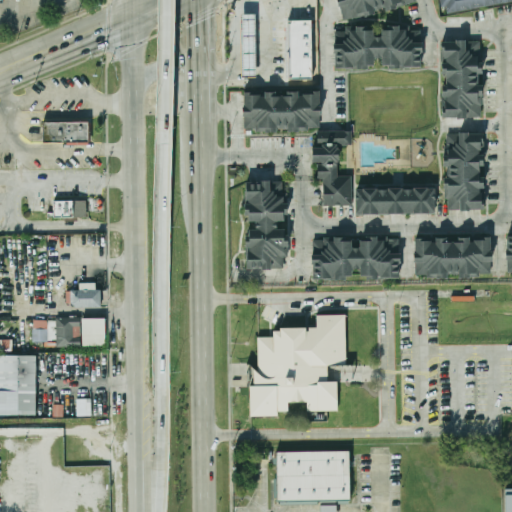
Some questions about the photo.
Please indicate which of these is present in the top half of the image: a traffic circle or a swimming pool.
swimming pool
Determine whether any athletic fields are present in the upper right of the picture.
Yes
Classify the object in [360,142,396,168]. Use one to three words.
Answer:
swimming pool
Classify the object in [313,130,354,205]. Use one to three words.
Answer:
building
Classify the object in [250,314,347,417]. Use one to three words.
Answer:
building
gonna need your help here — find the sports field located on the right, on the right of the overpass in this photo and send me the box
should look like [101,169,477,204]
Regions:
[350,72,438,134]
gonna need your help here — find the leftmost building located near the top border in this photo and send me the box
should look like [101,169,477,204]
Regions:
[242,14,256,78]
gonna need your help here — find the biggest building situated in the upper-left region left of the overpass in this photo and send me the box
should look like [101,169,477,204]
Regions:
[44,121,90,145]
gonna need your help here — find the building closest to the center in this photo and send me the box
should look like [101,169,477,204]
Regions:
[246,186,286,264]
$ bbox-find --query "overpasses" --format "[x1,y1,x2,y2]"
[151,0,176,512]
